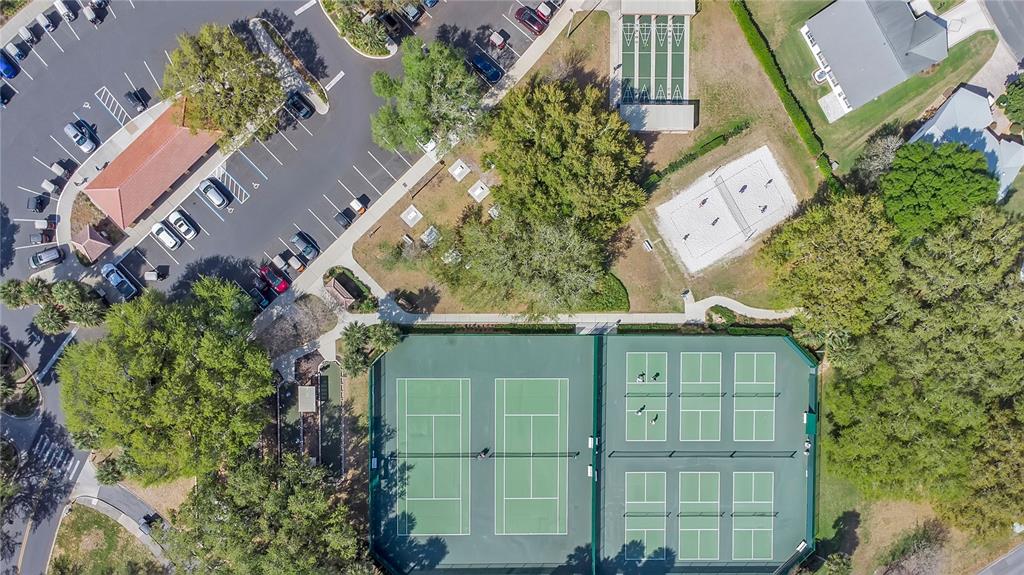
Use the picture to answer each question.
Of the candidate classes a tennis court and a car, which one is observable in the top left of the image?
car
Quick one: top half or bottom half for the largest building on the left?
top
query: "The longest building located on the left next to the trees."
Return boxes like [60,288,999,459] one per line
[84,97,226,229]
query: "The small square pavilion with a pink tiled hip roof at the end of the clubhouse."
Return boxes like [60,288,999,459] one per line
[71,224,118,263]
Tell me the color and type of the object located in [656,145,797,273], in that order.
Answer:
white sports court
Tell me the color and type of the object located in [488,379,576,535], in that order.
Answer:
green tennis court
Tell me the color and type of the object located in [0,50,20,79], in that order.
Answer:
blue car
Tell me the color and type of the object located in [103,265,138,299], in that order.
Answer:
blue truck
